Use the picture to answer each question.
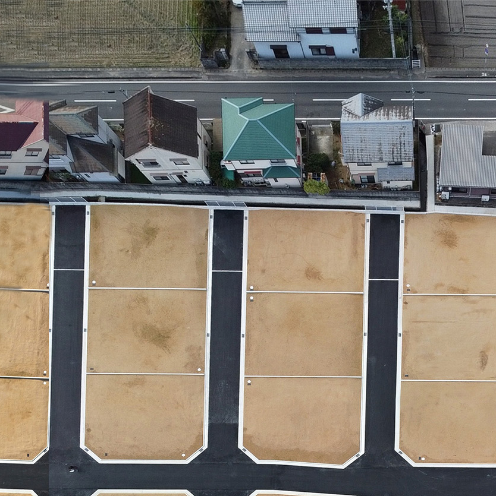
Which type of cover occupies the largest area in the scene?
paved ground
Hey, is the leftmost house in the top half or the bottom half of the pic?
top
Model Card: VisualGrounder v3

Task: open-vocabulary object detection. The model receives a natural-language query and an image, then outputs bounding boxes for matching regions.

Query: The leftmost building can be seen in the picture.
[0,93,56,171]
